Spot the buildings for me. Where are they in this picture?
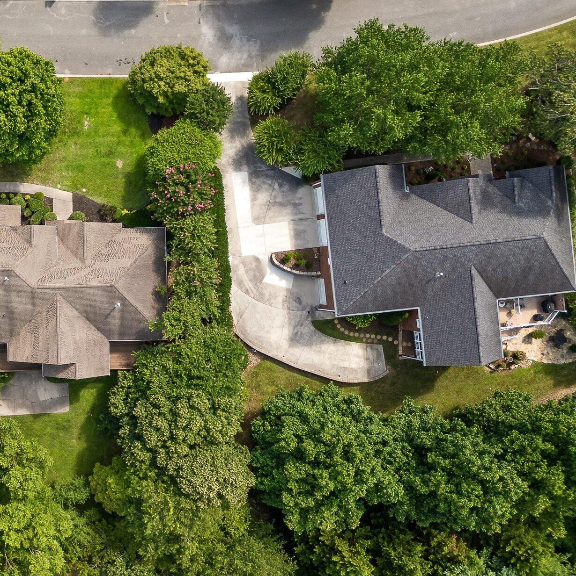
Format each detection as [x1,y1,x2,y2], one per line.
[312,164,576,367]
[0,203,168,379]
